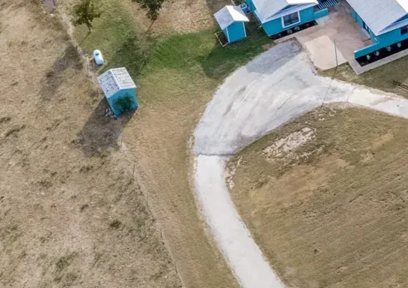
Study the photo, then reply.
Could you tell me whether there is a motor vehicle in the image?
No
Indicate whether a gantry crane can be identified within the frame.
No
